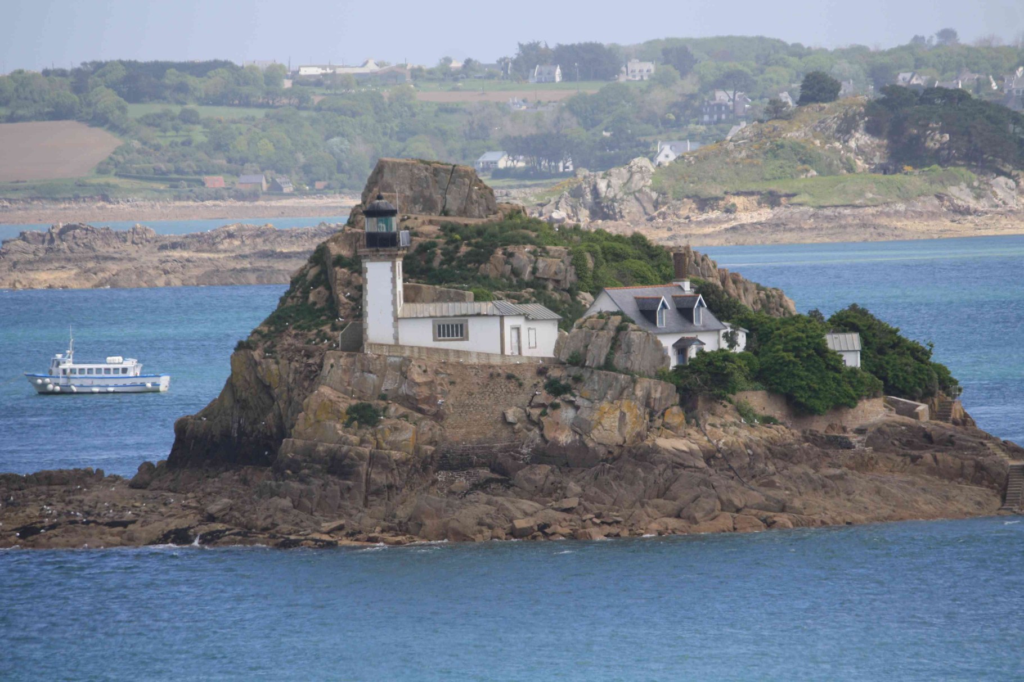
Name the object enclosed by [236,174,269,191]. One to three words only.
barn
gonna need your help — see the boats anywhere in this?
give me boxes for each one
[12,325,172,393]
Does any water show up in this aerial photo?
Yes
